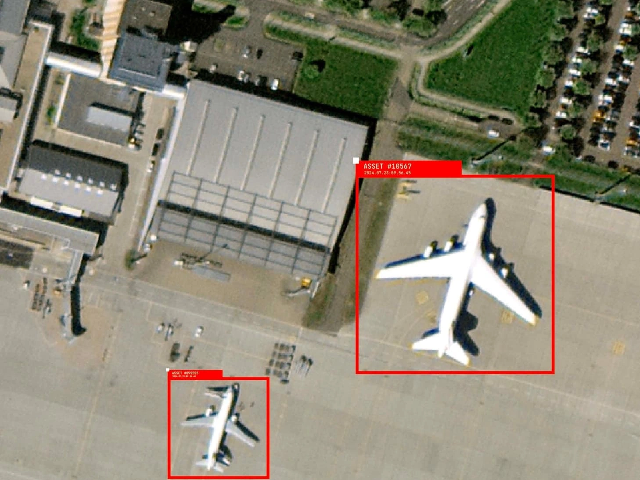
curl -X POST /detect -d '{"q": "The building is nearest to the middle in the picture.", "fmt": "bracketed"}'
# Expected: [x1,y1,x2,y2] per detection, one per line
[137,78,368,299]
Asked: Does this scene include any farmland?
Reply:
No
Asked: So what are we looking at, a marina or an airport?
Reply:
airport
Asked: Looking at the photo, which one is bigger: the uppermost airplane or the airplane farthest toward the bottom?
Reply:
the uppermost airplane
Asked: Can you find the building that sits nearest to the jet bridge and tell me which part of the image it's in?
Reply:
left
